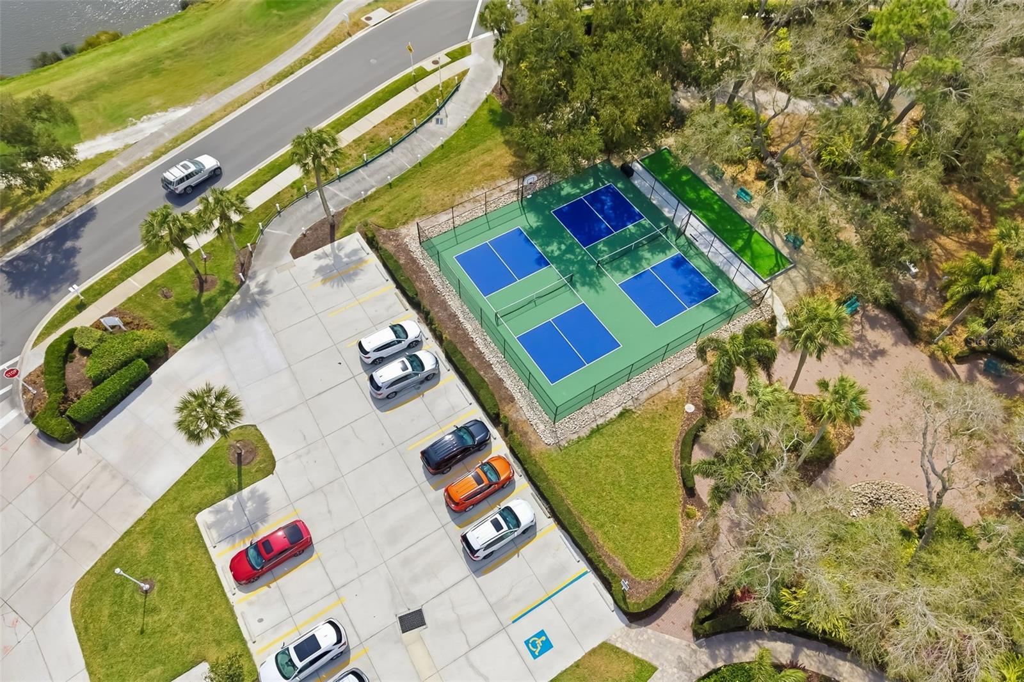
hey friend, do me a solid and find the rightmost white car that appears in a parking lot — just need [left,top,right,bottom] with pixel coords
[464,502,538,564]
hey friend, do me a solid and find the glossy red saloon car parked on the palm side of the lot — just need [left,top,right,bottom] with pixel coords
[227,521,313,589]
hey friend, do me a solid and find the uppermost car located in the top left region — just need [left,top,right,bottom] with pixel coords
[165,153,227,195]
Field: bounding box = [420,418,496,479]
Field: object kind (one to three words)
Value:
car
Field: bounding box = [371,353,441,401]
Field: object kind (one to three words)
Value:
car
